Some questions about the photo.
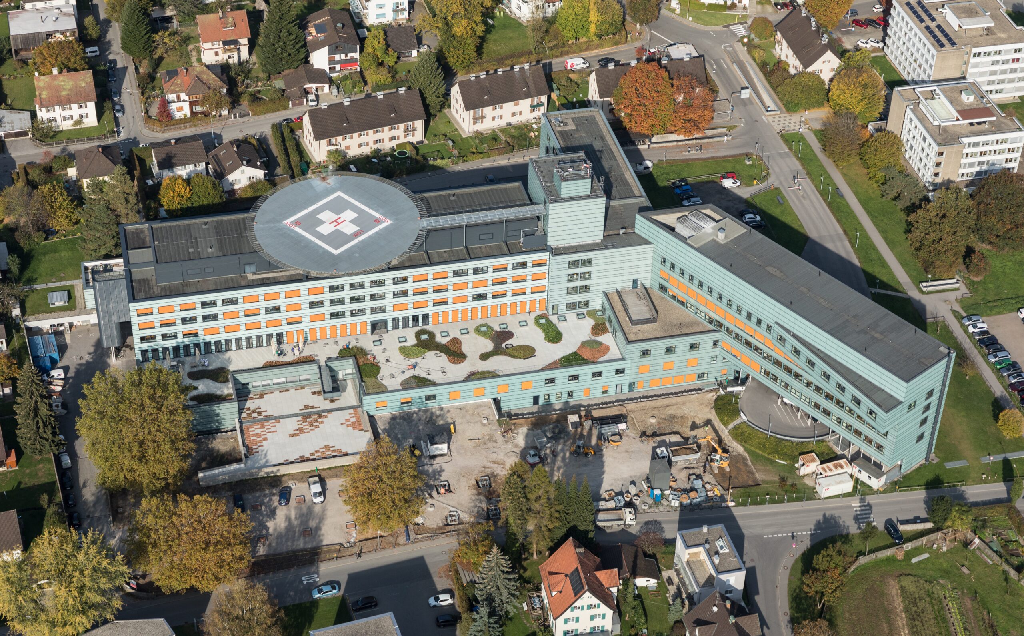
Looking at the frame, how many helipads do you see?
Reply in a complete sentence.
The count comes to 1 helipad.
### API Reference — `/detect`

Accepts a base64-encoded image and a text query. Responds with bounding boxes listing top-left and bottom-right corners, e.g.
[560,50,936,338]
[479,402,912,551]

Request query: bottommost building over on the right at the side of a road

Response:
[682,594,755,636]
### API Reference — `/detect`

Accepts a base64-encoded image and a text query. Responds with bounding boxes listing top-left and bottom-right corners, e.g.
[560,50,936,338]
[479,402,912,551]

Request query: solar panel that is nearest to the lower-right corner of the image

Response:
[563,570,581,600]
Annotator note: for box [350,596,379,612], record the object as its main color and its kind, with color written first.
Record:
black car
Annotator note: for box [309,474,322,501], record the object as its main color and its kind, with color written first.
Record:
white vehicle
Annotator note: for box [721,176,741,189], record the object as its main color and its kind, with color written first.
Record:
white vehicle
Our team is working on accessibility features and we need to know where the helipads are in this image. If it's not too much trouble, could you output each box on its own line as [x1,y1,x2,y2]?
[244,171,430,282]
